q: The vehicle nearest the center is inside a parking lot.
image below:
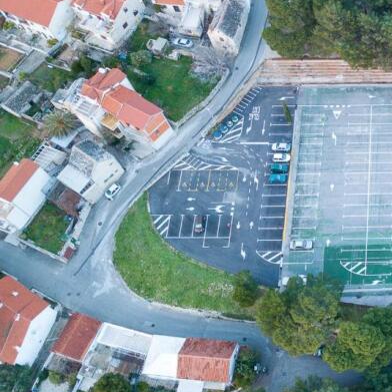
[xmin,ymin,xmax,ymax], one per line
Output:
[192,212,205,232]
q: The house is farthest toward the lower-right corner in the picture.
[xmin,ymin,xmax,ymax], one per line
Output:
[176,338,239,392]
